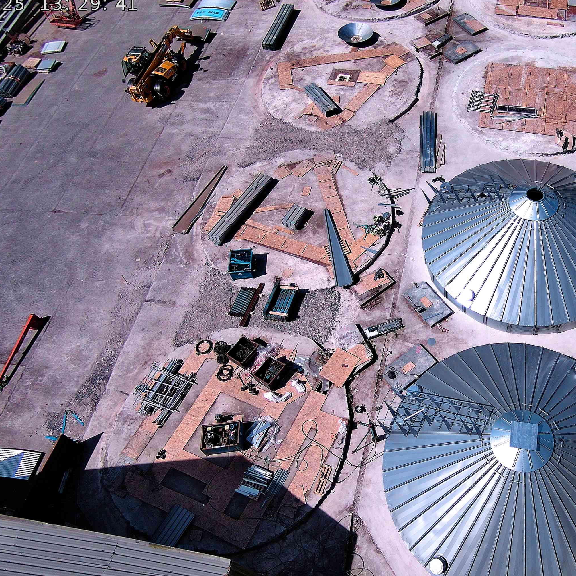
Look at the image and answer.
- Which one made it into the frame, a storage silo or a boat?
storage silo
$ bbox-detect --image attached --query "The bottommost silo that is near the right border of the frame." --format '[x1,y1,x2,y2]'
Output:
[372,342,576,576]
